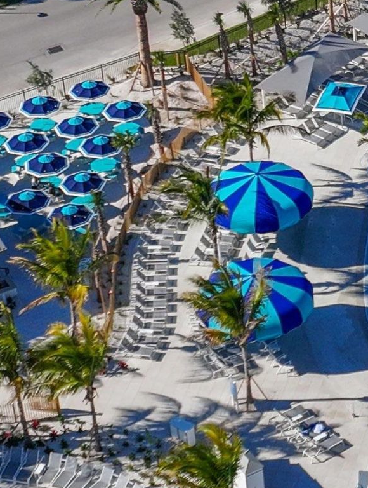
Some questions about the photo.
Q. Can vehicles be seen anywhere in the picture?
No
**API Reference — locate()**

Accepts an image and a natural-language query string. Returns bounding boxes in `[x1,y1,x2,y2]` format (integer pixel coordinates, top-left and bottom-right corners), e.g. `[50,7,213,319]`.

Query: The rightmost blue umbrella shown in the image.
[312,81,368,131]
